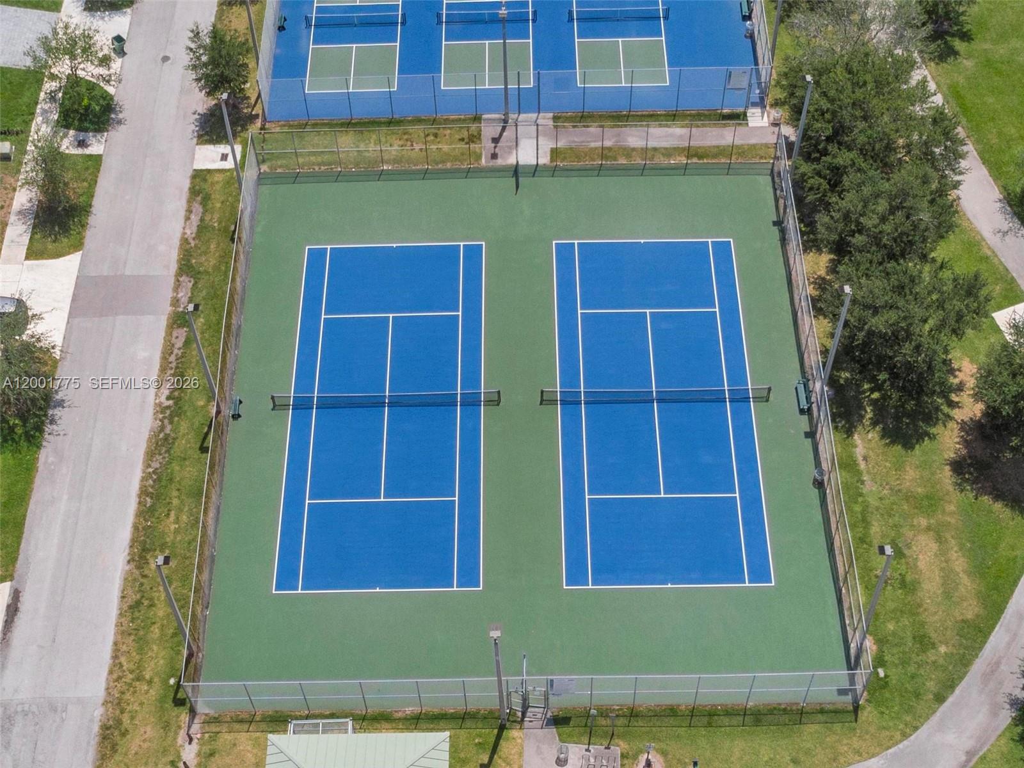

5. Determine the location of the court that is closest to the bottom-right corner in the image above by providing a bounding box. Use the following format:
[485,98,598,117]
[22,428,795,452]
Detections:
[553,238,775,588]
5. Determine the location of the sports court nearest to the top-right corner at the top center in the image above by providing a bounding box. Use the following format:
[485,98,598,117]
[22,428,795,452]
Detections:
[574,0,668,86]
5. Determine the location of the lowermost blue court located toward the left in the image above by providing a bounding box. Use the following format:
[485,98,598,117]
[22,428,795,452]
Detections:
[272,242,486,593]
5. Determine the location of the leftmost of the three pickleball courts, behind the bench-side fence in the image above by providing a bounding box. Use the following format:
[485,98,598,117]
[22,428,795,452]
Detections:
[306,0,401,91]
